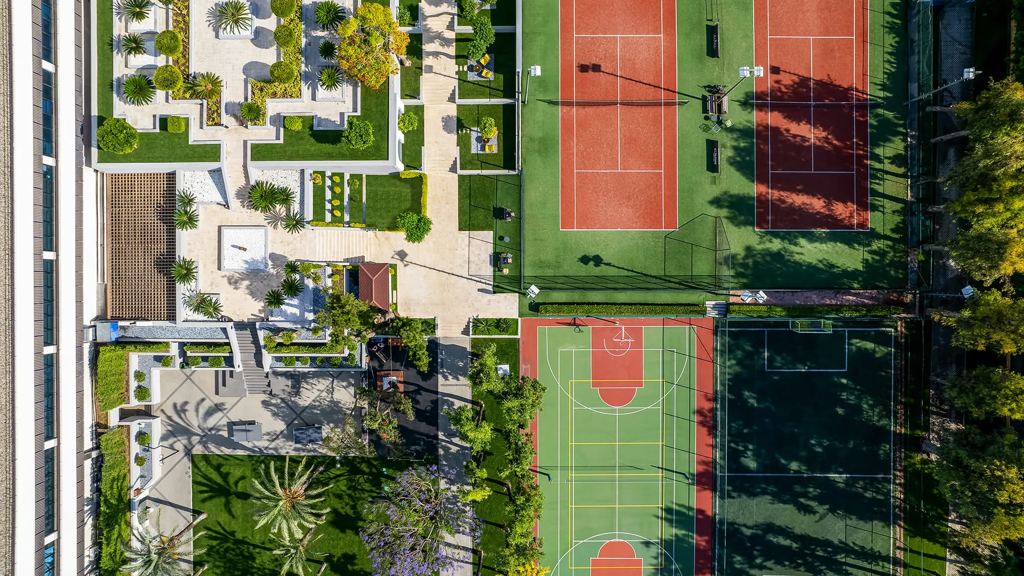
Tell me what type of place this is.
sports ground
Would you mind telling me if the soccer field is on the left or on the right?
right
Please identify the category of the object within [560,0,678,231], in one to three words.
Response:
tennis court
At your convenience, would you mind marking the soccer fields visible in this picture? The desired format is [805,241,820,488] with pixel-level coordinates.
[715,318,898,576]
